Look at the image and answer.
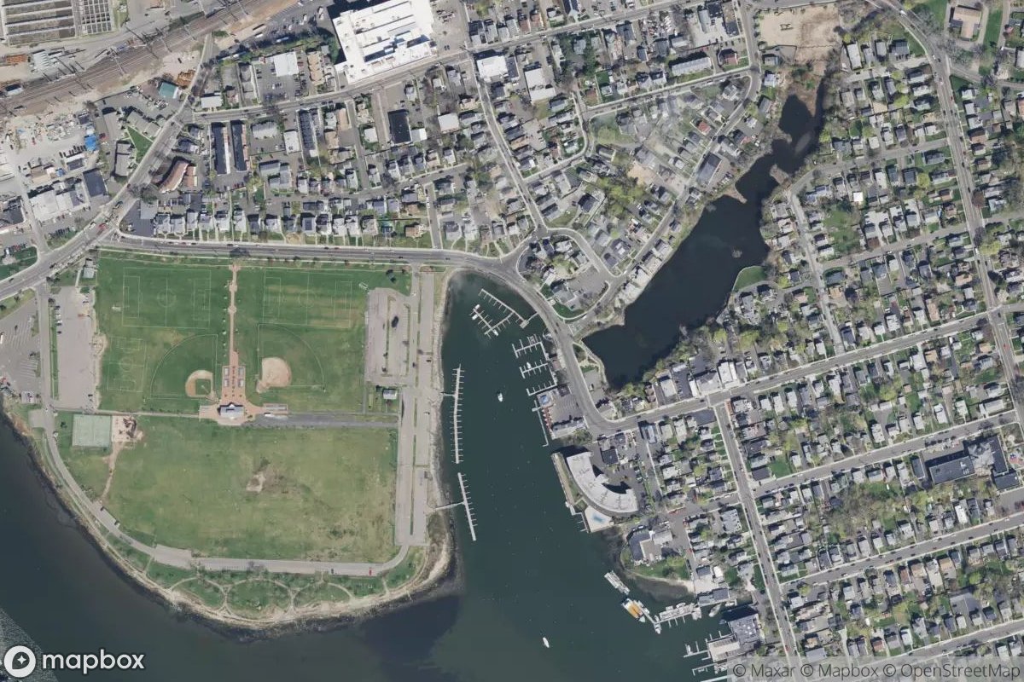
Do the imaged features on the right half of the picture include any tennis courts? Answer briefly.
No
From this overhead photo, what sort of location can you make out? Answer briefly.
residential area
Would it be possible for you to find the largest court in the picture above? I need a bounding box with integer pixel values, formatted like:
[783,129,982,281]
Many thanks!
[72,414,111,447]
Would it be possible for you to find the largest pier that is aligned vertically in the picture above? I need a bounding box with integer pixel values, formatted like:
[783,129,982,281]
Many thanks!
[450,365,463,463]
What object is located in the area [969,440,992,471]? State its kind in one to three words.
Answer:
building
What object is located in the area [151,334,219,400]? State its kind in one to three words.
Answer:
baseball field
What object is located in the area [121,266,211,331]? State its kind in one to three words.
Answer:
soccer field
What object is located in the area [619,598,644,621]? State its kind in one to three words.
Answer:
ship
